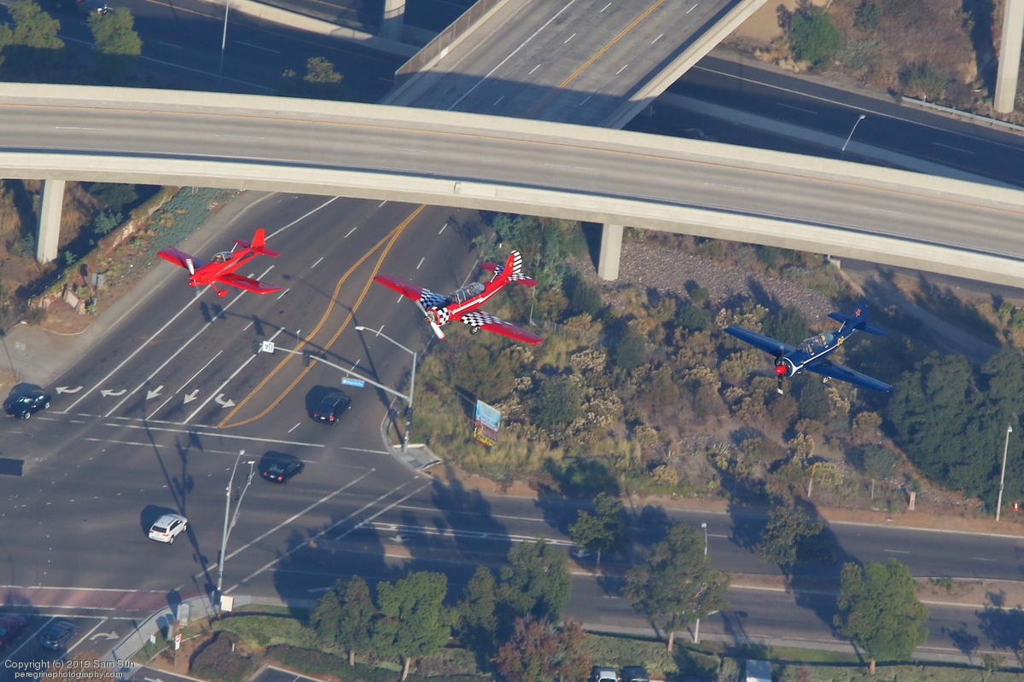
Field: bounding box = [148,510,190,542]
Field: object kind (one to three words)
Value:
car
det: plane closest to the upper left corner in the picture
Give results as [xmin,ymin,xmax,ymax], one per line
[157,227,282,302]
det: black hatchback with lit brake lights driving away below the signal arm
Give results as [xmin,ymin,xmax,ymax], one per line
[312,389,352,418]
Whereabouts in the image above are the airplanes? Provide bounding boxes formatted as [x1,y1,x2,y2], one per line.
[724,297,898,393]
[373,246,548,344]
[157,227,282,302]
